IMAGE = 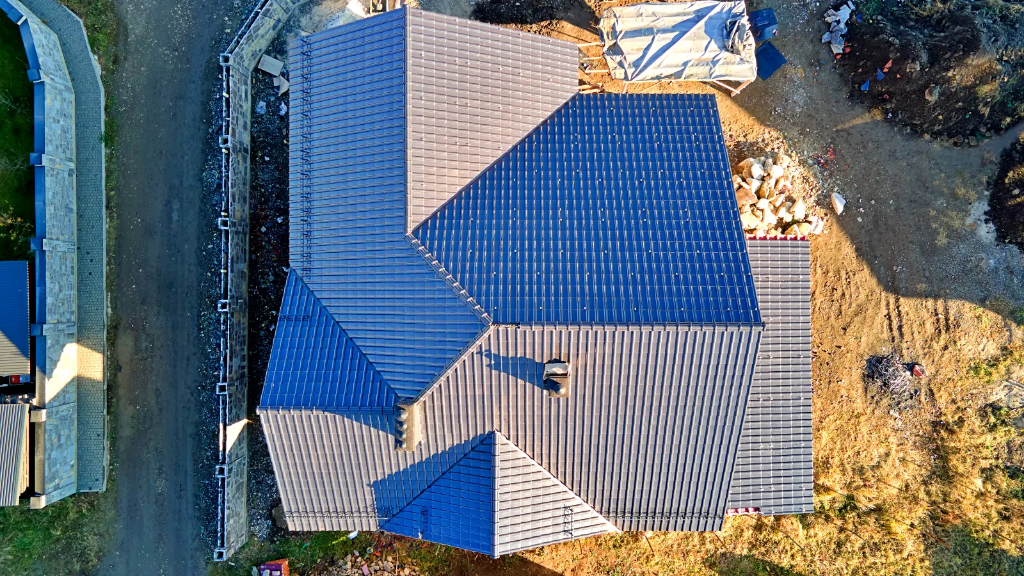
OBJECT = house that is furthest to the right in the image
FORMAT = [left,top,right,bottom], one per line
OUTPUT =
[253,3,814,561]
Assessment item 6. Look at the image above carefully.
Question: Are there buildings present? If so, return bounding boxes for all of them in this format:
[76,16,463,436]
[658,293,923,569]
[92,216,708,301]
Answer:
[0,404,37,506]
[0,261,37,377]
[253,3,814,561]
